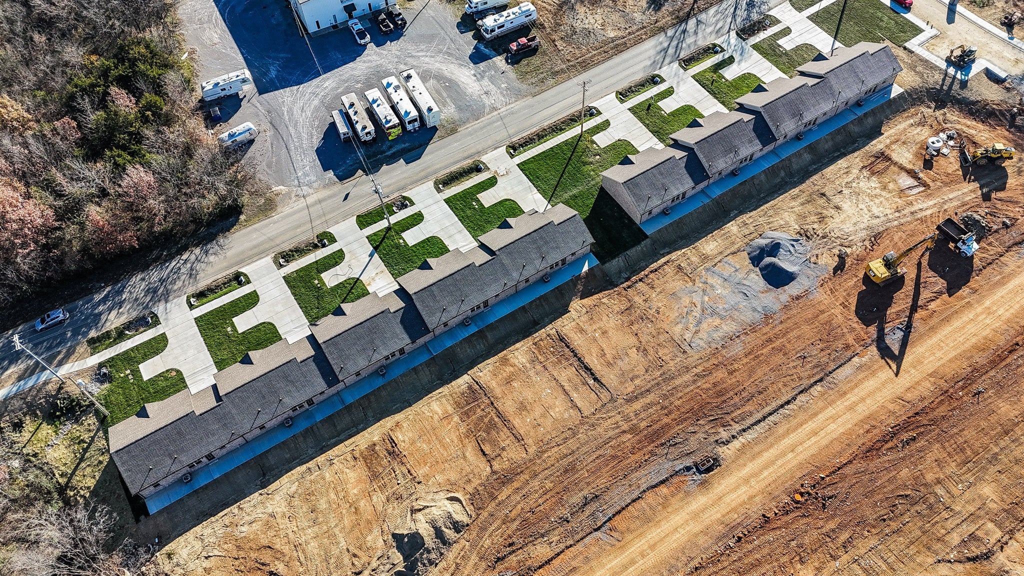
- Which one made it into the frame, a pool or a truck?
truck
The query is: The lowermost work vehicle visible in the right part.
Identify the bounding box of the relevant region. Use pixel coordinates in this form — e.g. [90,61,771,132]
[862,242,944,293]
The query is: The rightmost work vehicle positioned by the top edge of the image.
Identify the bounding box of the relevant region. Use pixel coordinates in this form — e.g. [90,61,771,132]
[1005,10,1023,27]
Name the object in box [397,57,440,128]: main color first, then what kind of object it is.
white trailer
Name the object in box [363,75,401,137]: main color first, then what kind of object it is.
white camper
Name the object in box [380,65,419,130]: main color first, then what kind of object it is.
white trailer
